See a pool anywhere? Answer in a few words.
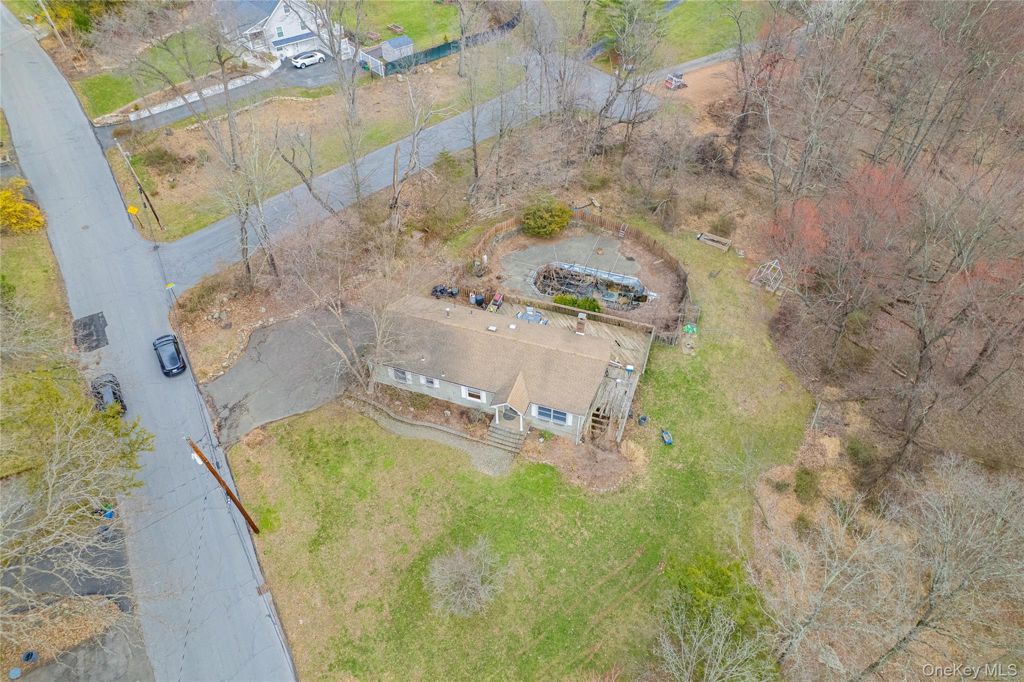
Yes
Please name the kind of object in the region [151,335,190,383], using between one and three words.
car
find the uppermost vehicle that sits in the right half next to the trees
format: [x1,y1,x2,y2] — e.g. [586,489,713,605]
[667,69,691,90]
